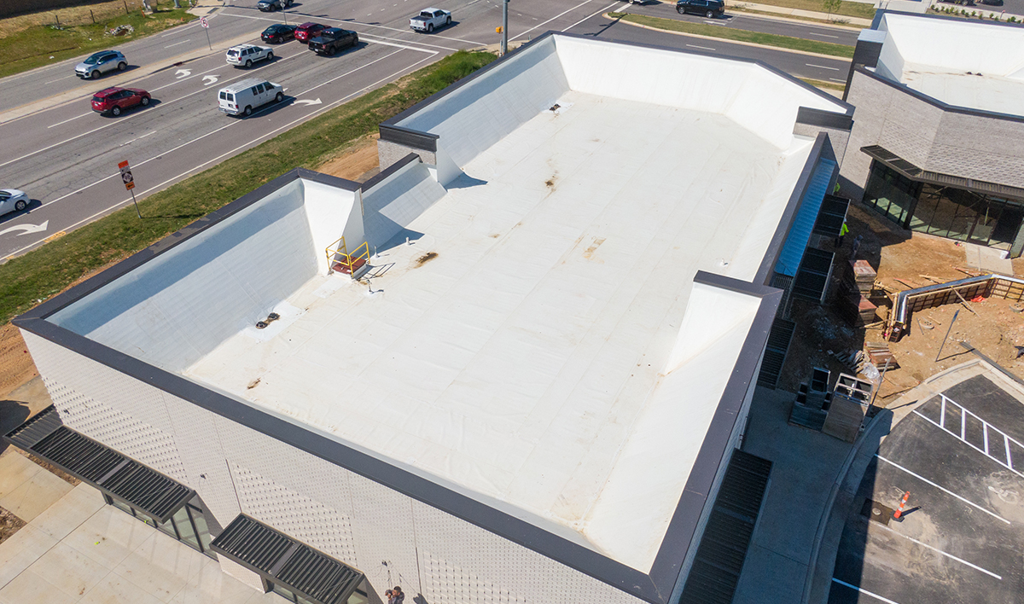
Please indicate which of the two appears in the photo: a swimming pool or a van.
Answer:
van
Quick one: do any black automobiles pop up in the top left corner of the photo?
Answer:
Yes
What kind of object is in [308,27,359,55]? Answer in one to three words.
truck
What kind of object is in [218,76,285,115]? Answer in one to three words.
van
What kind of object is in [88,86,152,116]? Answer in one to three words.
car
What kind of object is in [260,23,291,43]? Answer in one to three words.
car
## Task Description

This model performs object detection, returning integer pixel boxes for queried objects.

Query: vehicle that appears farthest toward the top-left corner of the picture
[71,48,128,79]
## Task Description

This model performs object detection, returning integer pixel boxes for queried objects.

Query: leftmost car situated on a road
[0,188,32,216]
